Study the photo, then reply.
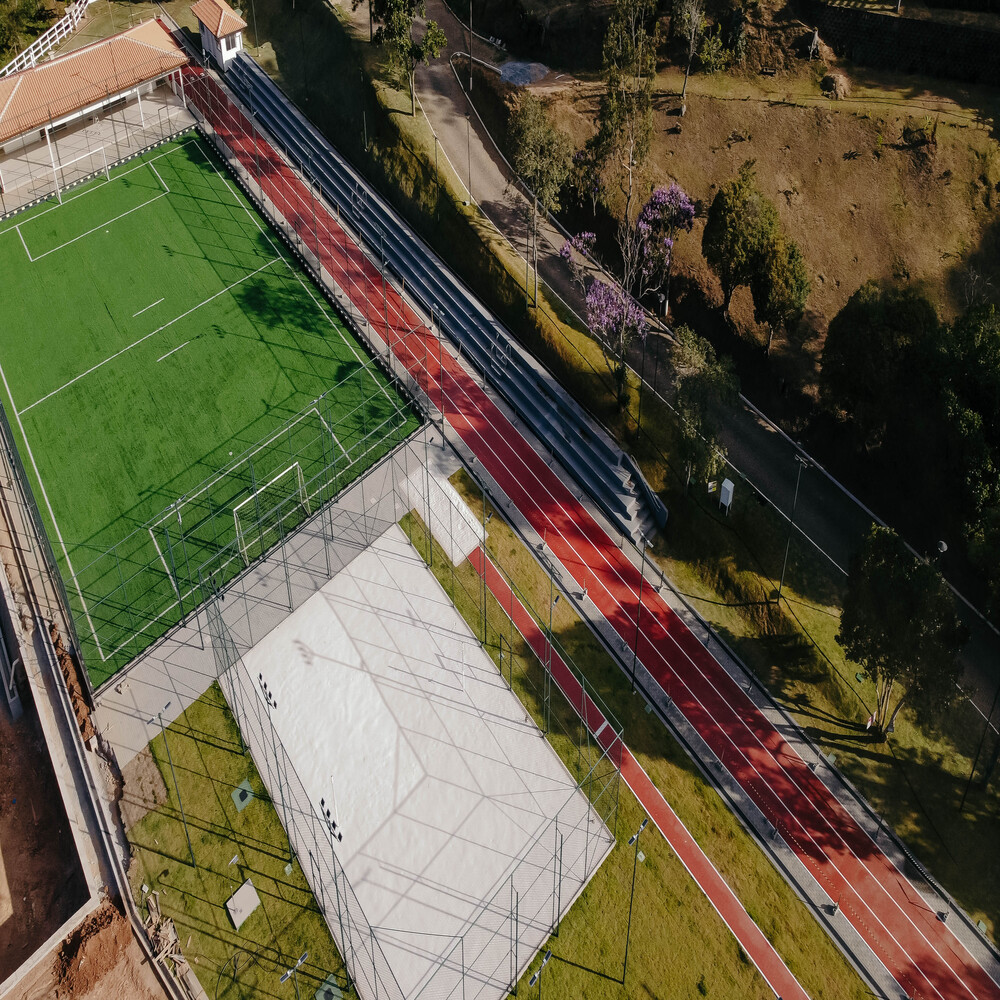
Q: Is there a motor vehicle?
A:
No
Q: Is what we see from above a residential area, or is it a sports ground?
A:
sports ground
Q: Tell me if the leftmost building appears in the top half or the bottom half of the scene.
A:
top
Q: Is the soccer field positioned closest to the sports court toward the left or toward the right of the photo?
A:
left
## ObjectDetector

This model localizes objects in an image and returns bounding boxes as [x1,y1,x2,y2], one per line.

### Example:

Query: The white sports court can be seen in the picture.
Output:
[216,518,619,1000]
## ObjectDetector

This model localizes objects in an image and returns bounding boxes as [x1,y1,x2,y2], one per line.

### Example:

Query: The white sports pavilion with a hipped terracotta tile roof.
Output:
[0,18,190,191]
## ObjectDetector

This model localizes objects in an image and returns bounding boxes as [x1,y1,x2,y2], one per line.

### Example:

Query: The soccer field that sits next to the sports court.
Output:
[0,129,421,688]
